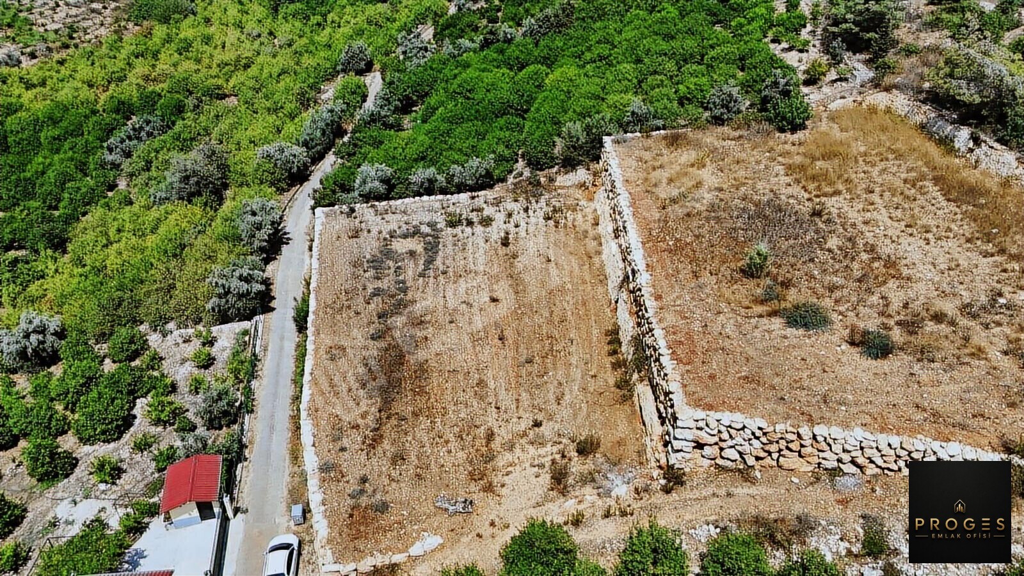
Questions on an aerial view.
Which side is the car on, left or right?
left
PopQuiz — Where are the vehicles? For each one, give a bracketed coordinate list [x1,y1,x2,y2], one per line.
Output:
[257,533,302,576]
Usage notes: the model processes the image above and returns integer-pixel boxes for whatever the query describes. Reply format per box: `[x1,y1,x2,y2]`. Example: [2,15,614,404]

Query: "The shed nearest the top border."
[160,454,224,530]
